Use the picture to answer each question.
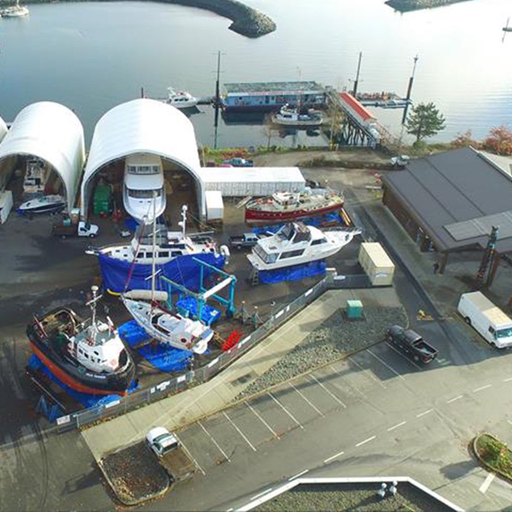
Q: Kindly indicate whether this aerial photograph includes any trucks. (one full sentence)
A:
Yes, the image includes a truck.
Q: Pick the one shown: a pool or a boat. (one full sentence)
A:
Looking from above, you can make out a boat.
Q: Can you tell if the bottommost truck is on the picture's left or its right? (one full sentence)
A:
It is on the left.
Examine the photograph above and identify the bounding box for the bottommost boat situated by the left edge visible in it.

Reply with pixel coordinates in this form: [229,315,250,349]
[19,294,142,392]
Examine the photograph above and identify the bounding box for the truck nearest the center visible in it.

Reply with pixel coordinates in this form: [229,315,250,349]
[228,230,268,253]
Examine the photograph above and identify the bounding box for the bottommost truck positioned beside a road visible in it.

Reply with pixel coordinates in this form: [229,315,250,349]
[144,428,193,479]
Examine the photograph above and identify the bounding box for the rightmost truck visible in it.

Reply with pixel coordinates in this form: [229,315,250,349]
[459,294,512,358]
